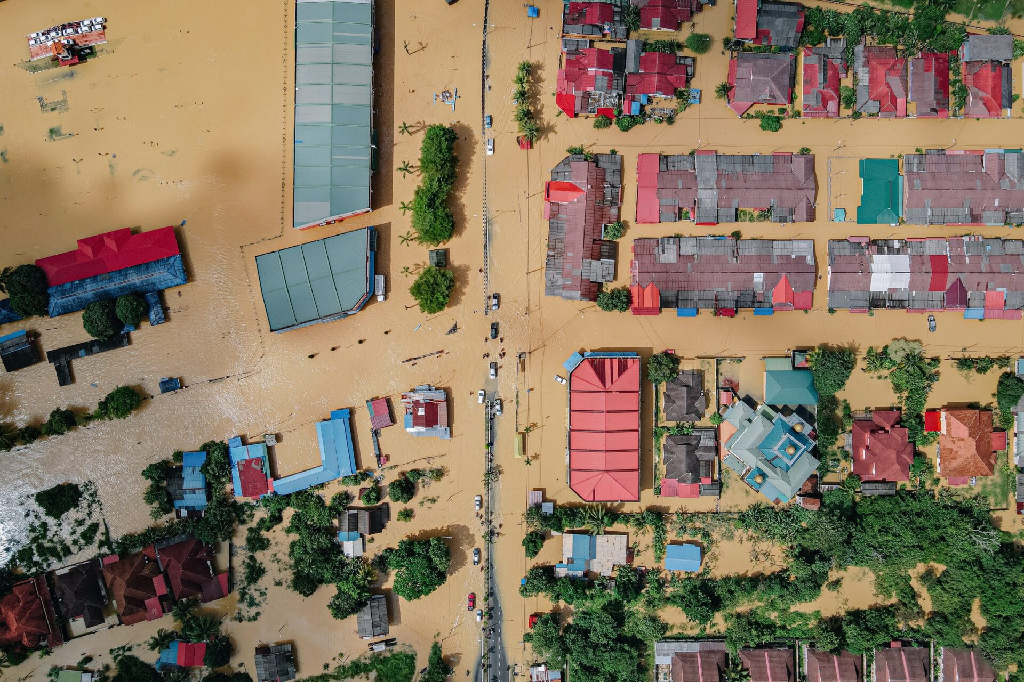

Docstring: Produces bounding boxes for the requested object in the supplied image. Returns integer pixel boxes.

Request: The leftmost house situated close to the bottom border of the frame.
[0,575,69,649]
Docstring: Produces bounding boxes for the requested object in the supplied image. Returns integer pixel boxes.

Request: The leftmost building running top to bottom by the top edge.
[294,0,378,235]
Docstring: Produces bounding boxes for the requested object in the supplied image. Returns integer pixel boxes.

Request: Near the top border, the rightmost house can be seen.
[953,32,1012,119]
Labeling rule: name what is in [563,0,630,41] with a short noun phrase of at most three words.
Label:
house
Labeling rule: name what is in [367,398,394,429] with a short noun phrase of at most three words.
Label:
shed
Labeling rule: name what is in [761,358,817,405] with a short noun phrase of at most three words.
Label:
building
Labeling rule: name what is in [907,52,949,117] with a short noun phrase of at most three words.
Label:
house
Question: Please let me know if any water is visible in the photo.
Yes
